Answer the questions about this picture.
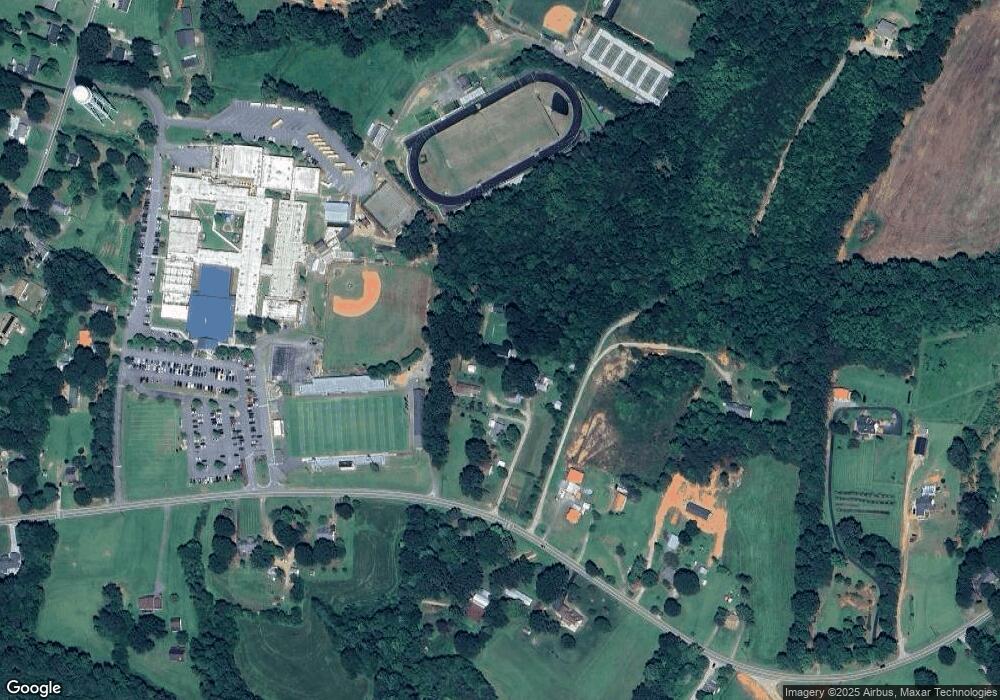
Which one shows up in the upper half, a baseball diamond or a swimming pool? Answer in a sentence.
There is a baseball diamond in the upper half.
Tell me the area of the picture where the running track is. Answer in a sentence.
Look in the top portion of the view to spot the running track.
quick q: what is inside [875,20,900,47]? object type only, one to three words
house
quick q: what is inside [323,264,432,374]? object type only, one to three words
baseball field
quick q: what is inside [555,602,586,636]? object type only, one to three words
house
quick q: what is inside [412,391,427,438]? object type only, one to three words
building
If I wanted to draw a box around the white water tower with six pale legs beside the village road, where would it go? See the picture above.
[67,81,119,127]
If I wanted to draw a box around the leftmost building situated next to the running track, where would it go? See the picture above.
[160,144,323,350]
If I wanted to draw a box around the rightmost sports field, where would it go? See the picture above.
[616,0,697,55]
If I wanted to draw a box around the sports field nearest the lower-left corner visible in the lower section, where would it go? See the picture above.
[286,393,411,459]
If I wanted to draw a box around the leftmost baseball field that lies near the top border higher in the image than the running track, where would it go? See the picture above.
[511,0,589,37]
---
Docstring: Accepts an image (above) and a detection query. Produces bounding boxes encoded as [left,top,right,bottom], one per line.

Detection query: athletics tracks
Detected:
[402,72,583,205]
